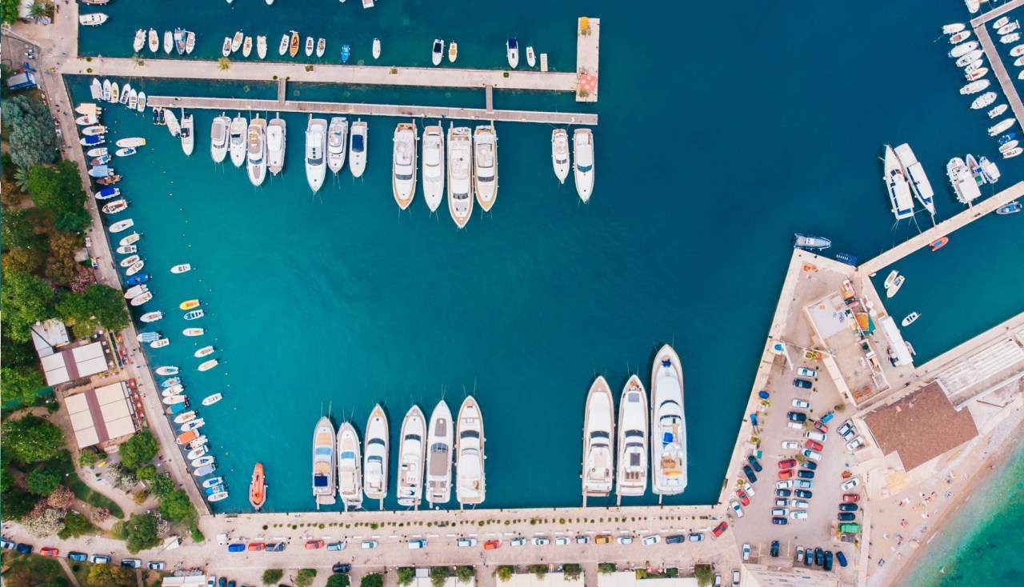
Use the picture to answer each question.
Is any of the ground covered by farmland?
No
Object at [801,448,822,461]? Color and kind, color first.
white vehicle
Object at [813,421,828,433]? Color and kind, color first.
red vehicle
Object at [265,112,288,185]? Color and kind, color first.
white boat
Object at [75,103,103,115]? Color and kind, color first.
white boat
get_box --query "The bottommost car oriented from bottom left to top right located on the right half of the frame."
[710,521,730,538]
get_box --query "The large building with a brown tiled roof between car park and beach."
[860,380,980,472]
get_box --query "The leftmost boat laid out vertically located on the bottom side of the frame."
[249,463,268,512]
